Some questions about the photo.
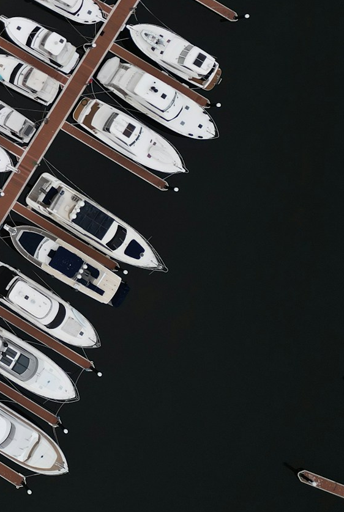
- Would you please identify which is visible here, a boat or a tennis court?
boat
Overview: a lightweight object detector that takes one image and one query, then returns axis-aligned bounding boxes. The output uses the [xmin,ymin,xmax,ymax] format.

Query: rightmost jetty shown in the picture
[296,471,344,497]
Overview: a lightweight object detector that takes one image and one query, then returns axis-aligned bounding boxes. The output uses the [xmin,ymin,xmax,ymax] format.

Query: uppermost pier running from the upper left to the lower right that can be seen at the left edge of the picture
[0,36,71,87]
